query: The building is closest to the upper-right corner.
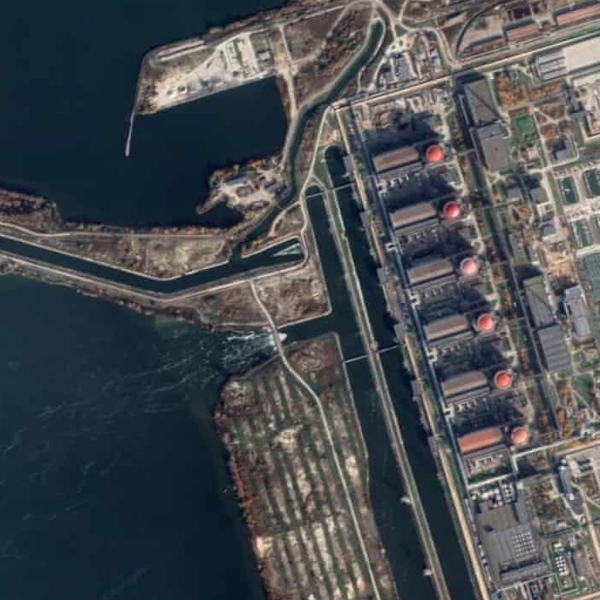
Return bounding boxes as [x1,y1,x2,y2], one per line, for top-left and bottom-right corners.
[556,4,600,25]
